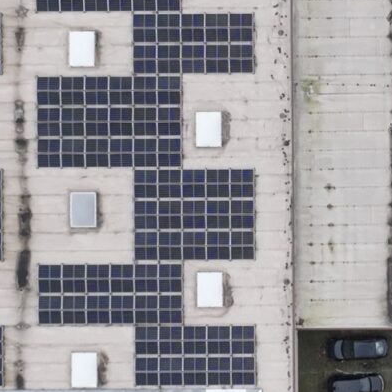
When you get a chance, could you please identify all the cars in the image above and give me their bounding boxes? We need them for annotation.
[328,372,385,392]
[328,336,389,363]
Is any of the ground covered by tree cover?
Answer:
No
